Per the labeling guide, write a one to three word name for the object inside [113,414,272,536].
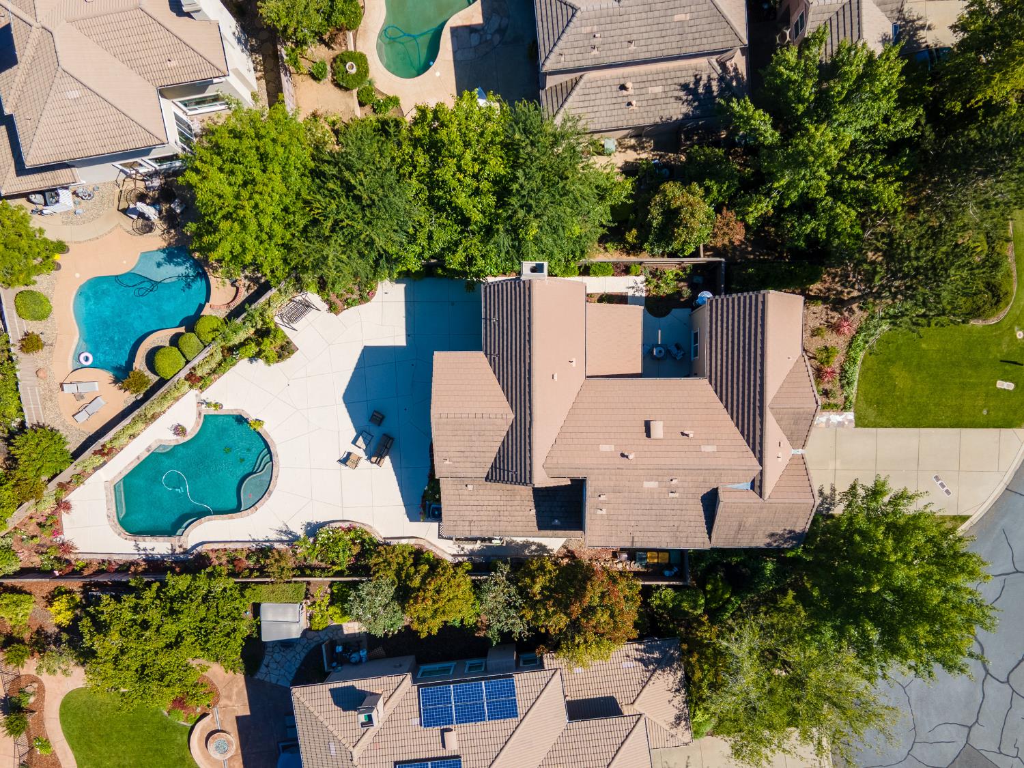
swimming pool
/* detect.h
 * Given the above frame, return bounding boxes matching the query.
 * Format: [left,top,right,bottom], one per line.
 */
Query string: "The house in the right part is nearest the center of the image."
[432,261,822,550]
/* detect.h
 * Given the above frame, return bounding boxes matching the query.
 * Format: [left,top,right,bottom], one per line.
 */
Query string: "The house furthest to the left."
[0,0,255,203]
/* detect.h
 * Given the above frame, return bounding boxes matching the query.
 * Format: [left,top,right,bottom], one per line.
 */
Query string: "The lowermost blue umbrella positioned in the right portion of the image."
[694,290,710,306]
